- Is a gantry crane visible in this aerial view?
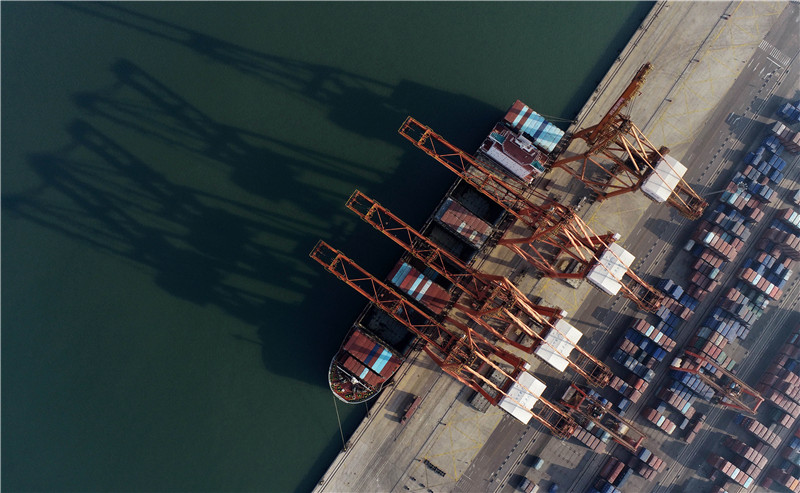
Yes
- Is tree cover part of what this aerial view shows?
No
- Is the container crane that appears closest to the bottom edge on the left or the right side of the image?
right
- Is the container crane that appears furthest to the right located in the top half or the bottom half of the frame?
bottom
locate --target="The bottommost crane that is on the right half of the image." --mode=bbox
[559,380,646,452]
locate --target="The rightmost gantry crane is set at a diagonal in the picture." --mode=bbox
[667,345,765,415]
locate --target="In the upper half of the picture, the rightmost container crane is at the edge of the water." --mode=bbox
[545,59,707,221]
